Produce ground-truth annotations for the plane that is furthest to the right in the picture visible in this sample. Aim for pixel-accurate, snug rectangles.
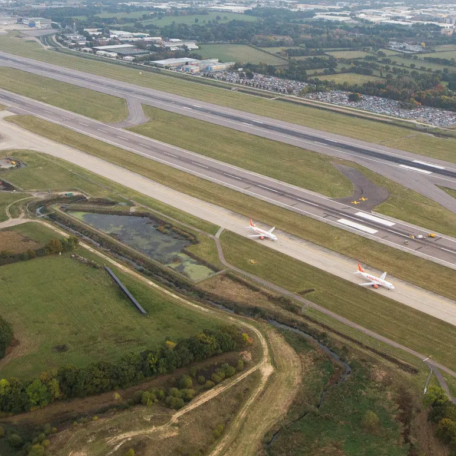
[356,261,394,286]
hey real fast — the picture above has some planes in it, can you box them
[242,215,275,236]
[356,261,394,286]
